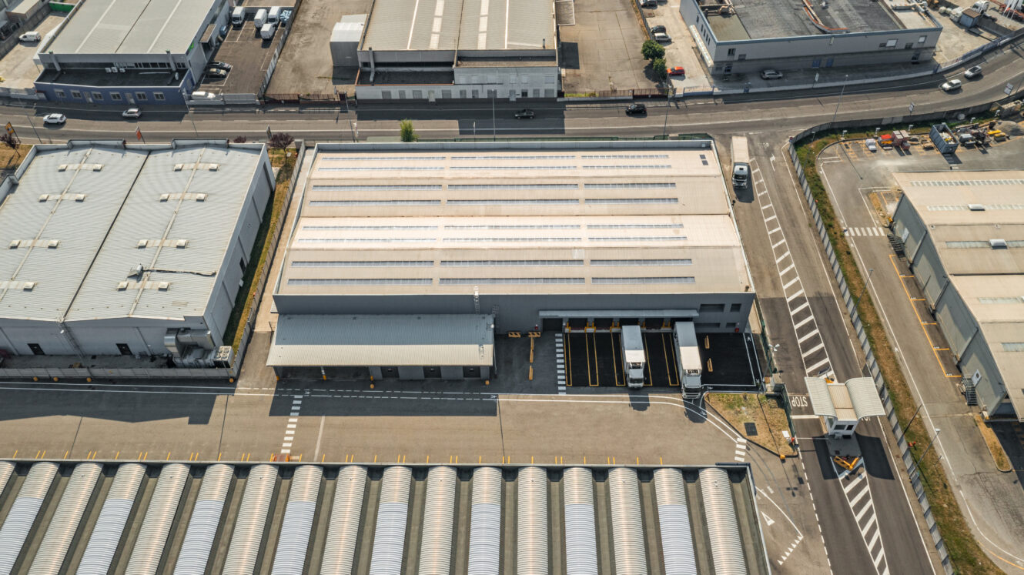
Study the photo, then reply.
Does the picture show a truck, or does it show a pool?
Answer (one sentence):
The image shows a truck.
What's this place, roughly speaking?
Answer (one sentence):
The area seen from above is an industrial area.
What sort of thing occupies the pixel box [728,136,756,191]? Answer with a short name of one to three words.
truck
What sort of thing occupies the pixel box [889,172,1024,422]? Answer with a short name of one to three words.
warehouse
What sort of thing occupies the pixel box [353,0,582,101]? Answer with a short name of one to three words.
building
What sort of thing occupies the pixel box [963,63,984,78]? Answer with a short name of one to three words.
car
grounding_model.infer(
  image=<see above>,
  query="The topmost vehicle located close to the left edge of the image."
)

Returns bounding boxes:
[19,30,42,42]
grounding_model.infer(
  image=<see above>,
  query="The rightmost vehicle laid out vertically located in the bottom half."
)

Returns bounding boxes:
[671,322,704,403]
